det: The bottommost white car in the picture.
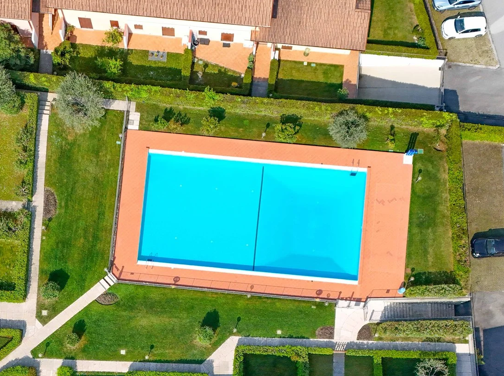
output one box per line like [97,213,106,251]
[440,16,489,42]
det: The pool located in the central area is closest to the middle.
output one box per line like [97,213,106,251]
[135,147,369,287]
